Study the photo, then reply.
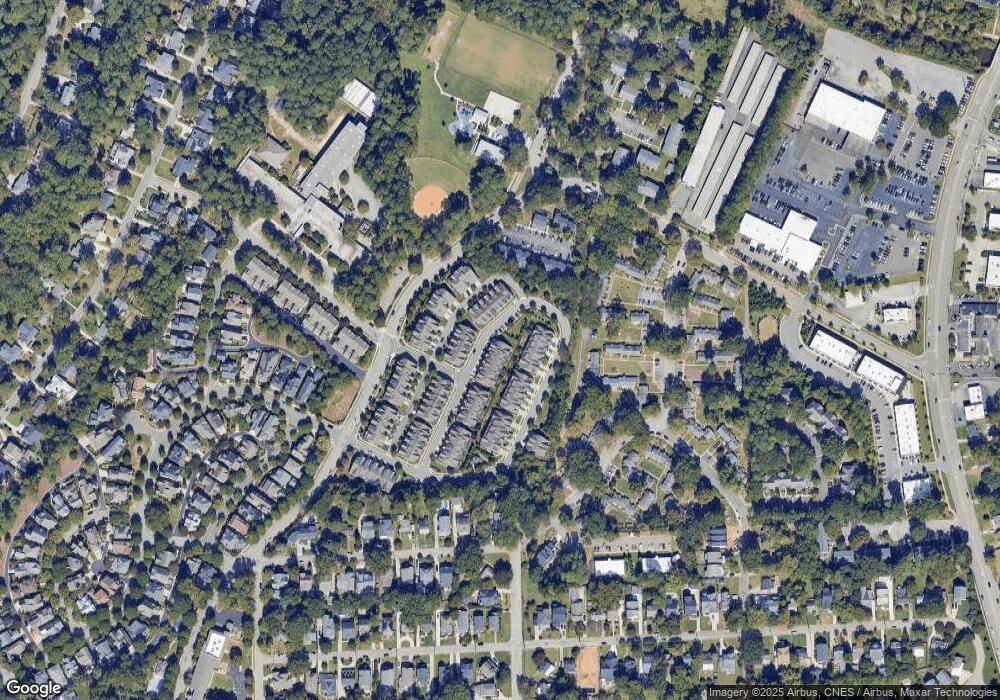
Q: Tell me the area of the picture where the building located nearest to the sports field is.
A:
top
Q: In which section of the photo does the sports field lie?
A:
top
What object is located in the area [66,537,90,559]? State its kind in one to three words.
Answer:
house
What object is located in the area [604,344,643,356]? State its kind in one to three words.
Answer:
building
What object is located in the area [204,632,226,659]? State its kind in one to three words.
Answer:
building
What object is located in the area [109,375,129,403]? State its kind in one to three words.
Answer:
house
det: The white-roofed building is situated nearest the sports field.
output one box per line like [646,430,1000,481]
[484,92,521,123]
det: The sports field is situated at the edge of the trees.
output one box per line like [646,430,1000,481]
[446,14,556,102]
